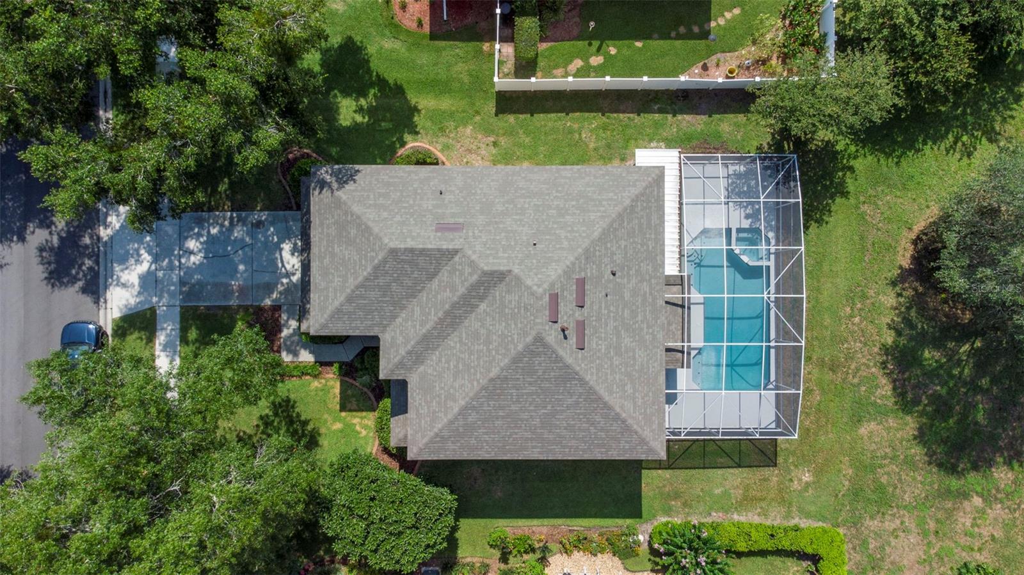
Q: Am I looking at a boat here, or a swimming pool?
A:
swimming pool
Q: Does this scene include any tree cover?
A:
Yes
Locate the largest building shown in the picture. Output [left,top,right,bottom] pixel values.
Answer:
[300,164,691,462]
